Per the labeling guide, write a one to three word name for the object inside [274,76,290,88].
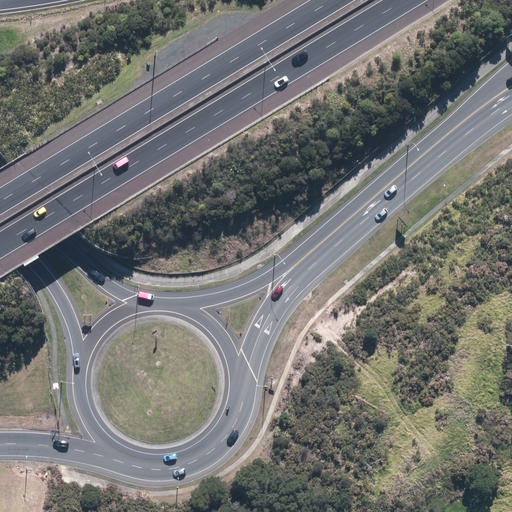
vehicle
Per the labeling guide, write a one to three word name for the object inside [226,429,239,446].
vehicle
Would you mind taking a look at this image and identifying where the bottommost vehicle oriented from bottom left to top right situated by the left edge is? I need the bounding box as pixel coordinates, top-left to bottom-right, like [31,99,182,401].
[20,229,36,241]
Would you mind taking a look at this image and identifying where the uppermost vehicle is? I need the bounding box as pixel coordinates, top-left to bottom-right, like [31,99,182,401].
[292,52,308,64]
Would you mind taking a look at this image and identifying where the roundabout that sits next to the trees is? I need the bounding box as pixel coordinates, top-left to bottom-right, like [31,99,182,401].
[69,293,247,471]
